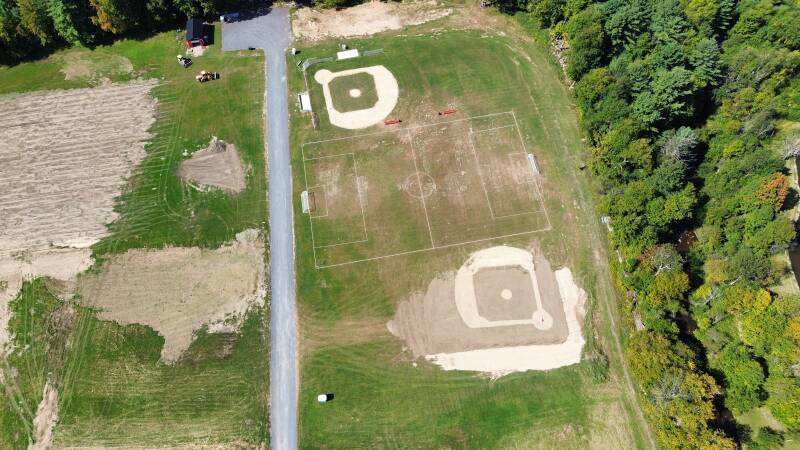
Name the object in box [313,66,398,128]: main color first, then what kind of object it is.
white baseball field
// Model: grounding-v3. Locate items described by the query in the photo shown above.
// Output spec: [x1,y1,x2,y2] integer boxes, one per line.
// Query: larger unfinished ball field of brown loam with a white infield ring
[388,246,588,376]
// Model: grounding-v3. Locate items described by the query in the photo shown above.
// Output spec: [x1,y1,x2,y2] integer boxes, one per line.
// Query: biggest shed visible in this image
[184,18,202,49]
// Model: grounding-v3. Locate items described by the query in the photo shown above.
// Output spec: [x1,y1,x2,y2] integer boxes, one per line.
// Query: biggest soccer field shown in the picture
[299,109,555,271]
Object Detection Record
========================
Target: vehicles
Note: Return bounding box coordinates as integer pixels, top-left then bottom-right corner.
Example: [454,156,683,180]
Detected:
[177,55,190,66]
[221,12,240,22]
[196,71,218,80]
